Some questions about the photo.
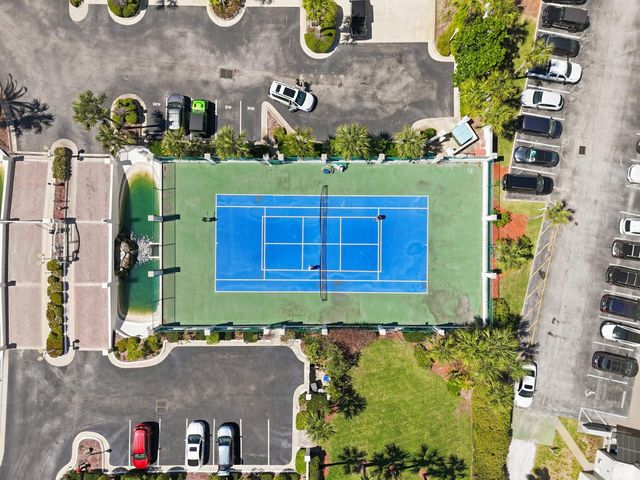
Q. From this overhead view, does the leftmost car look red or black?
red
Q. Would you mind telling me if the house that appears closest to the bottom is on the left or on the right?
right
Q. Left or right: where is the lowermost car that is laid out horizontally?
right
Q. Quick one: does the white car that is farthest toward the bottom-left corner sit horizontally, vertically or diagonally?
vertically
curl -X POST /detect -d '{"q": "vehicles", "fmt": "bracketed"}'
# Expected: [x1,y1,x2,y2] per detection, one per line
[534,32,581,58]
[604,264,640,286]
[543,6,586,31]
[600,322,640,343]
[591,352,638,378]
[349,0,367,39]
[599,295,640,318]
[216,426,236,473]
[519,87,566,111]
[189,100,211,138]
[513,145,560,168]
[516,116,563,138]
[269,81,315,116]
[611,239,640,260]
[526,60,581,84]
[163,95,186,139]
[618,217,640,235]
[129,423,153,468]
[512,362,538,407]
[184,422,206,469]
[504,173,552,195]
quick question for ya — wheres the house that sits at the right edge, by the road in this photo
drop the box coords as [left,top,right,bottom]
[566,420,640,480]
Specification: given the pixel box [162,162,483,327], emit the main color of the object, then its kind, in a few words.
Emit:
green tennis court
